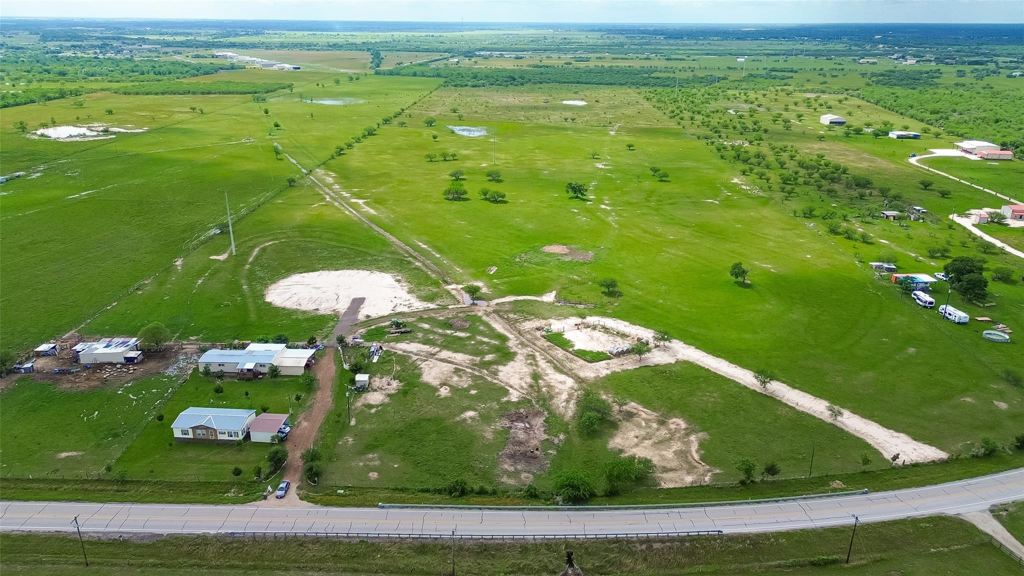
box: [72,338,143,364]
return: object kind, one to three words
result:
barn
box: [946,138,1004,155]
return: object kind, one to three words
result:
hangar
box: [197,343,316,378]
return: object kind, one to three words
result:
house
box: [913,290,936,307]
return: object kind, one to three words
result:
camper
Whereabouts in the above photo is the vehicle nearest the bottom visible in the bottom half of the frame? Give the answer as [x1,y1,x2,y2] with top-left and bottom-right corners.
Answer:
[275,481,290,497]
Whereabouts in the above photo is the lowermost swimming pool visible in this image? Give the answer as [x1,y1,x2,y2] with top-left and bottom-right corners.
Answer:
[981,328,1013,342]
